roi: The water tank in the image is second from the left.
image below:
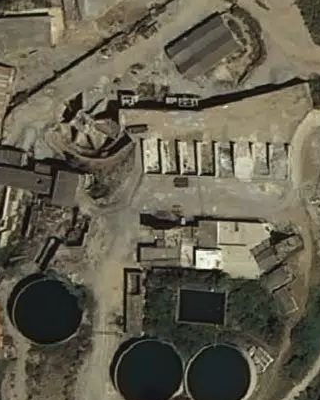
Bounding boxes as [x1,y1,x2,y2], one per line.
[114,337,185,400]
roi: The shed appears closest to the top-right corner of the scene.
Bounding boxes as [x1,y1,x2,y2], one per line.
[168,14,244,77]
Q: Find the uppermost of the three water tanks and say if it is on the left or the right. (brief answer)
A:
left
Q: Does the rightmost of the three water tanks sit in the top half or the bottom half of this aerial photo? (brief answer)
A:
bottom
